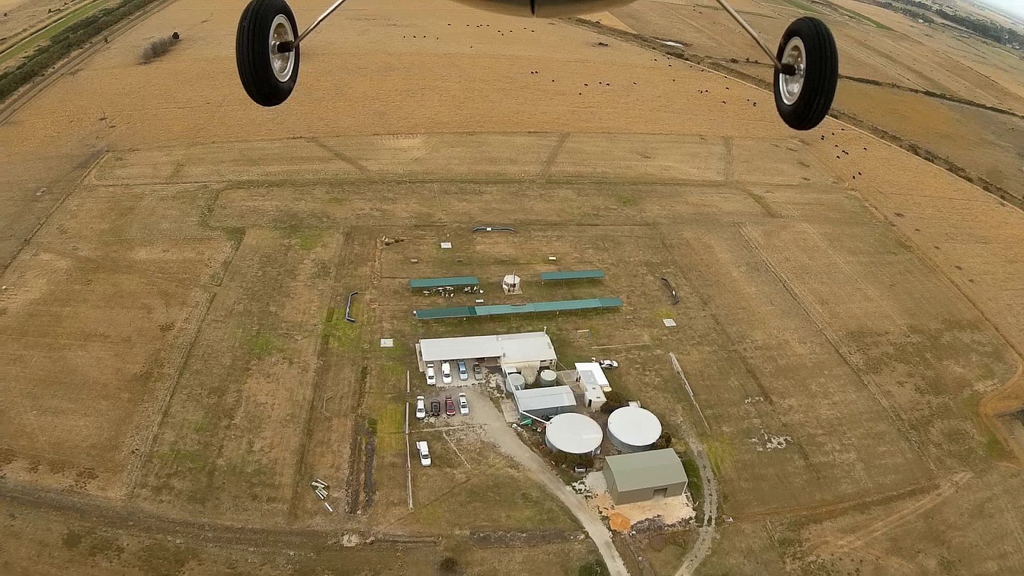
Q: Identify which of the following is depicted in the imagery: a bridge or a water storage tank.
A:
water storage tank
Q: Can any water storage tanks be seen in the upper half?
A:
No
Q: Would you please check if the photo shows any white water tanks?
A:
Yes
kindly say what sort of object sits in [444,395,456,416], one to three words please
vehicle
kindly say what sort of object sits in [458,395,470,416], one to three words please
vehicle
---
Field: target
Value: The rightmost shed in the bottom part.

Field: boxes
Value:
[604,447,690,505]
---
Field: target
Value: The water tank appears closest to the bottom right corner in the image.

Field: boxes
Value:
[606,401,661,454]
